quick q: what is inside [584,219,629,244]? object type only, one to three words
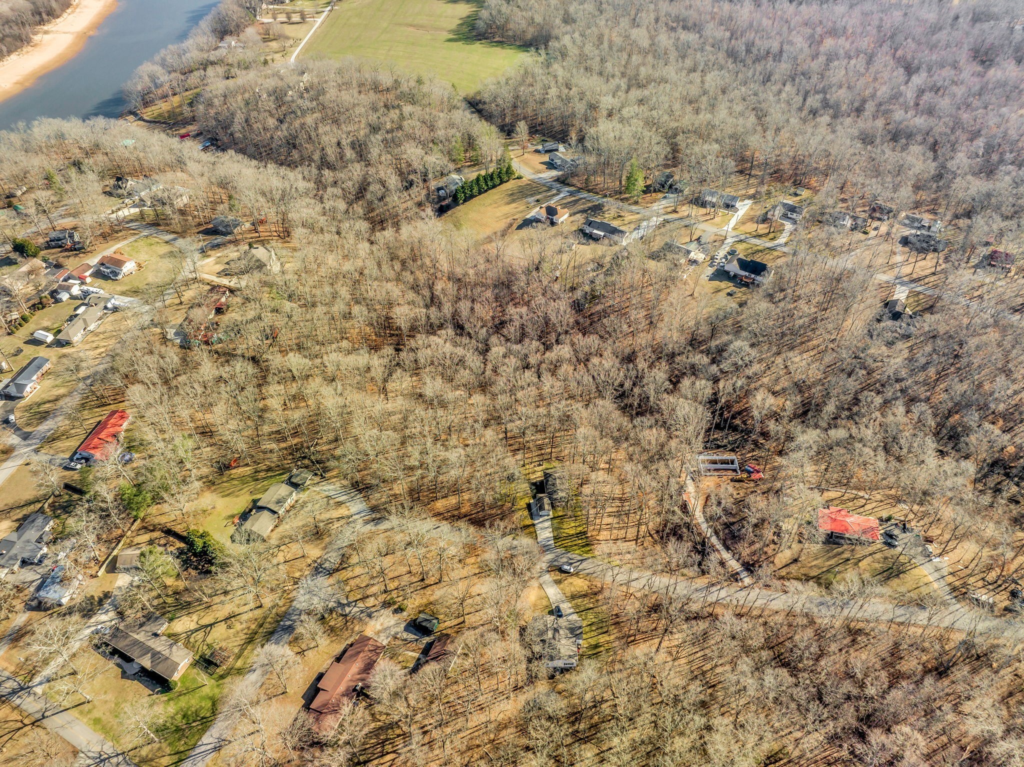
house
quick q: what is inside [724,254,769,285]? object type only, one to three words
house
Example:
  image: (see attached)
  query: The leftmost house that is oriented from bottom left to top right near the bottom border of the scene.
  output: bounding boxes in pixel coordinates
[299,635,385,745]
